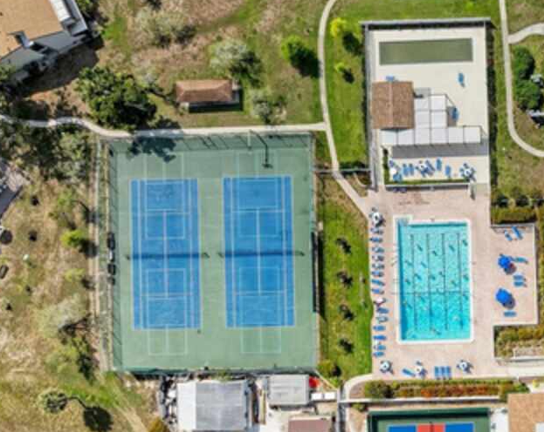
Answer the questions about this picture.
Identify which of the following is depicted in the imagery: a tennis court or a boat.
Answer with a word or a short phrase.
tennis court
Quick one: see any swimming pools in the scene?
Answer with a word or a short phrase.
Yes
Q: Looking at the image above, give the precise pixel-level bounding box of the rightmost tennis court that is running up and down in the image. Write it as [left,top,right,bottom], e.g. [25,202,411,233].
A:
[217,149,296,353]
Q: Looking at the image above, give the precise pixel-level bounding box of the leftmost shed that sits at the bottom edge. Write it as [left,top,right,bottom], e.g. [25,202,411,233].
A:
[177,379,255,432]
